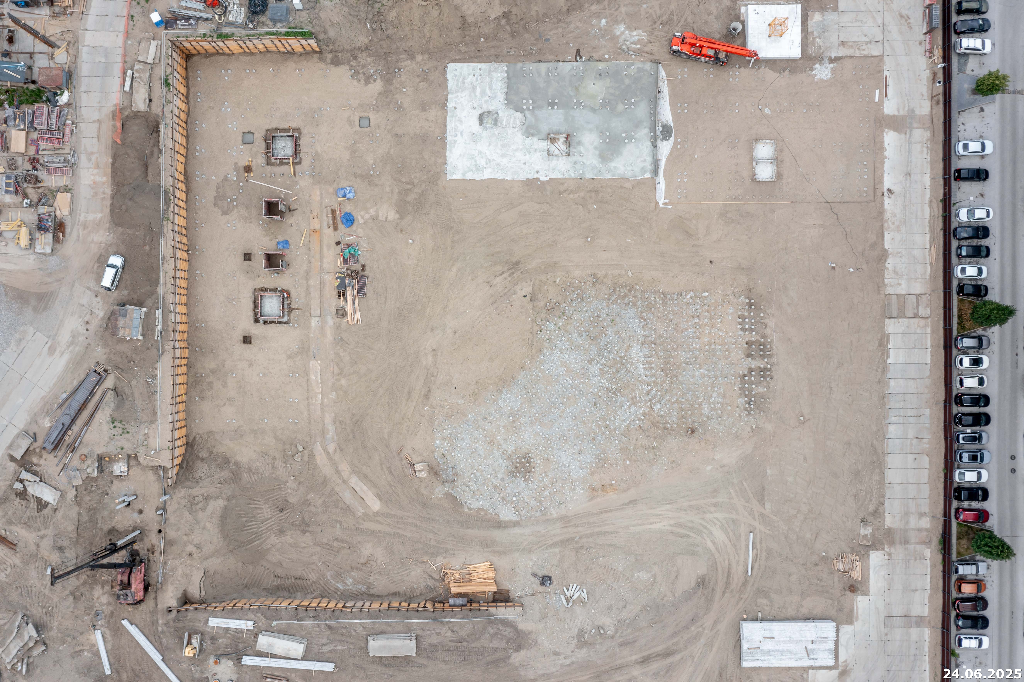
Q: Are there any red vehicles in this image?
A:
Yes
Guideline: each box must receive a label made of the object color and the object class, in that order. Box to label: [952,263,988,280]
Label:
white car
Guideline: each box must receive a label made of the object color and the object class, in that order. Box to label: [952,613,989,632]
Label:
black car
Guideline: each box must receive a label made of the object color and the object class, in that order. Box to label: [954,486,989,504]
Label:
black car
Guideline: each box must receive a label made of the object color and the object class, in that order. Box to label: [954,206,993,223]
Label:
white car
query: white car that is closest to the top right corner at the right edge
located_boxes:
[953,37,990,56]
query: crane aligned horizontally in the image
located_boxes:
[665,33,761,67]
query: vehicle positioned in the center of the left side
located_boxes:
[96,254,125,295]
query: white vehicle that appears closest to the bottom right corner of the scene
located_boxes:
[953,633,990,650]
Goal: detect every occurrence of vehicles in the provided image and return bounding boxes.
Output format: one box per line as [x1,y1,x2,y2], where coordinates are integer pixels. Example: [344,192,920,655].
[954,430,989,447]
[953,374,987,390]
[952,283,989,299]
[954,468,988,484]
[953,560,987,577]
[953,392,989,409]
[953,334,990,351]
[954,139,992,156]
[952,165,989,183]
[953,354,989,370]
[96,254,125,295]
[954,206,993,223]
[952,224,989,241]
[953,633,990,650]
[953,507,989,525]
[953,594,988,613]
[954,486,989,504]
[954,448,990,466]
[953,412,990,429]
[952,16,990,36]
[953,578,986,596]
[952,263,988,280]
[953,0,987,16]
[952,613,989,632]
[953,243,991,260]
[953,37,990,56]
